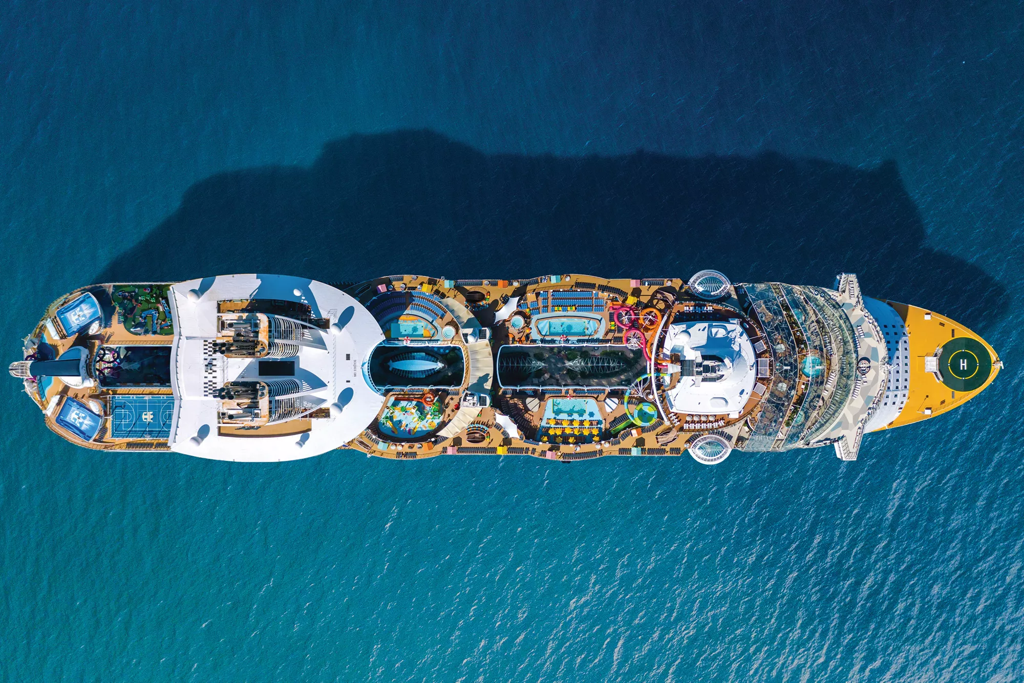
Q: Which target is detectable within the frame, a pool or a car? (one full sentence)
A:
The one in the frame is a pool.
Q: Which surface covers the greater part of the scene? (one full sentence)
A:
The largest share of the image is taken up by water.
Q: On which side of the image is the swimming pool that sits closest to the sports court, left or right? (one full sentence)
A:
It is on the left.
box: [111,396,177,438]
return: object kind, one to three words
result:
sports court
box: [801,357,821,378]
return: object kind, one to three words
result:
swimming pool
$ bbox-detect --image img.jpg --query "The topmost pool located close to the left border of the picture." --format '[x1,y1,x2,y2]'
[42,292,105,340]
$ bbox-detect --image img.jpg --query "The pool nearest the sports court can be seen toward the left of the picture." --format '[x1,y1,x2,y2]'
[43,393,105,442]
